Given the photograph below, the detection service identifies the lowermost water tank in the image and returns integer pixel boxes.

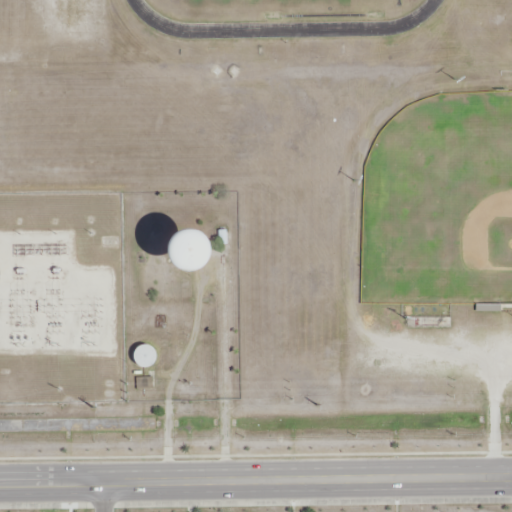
[132,344,157,376]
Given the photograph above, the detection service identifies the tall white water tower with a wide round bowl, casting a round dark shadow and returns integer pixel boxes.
[168,229,210,272]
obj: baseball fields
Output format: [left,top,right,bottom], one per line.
[361,91,512,304]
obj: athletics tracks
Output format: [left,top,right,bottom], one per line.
[130,0,445,38]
